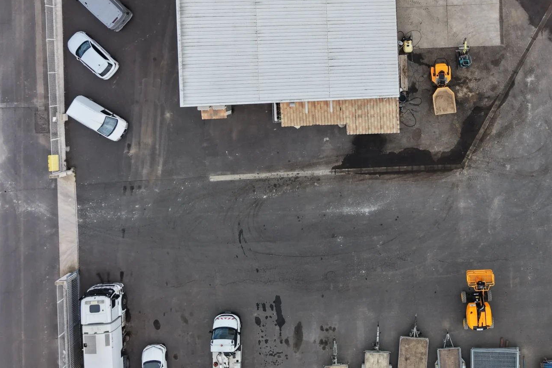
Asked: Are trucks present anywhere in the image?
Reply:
Yes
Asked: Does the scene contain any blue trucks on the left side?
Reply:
No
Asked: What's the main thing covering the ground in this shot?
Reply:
paved ground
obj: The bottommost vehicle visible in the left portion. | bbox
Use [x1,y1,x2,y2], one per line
[141,342,166,368]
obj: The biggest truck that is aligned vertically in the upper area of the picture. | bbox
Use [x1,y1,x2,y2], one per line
[428,61,457,116]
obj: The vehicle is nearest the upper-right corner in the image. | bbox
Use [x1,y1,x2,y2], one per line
[456,38,471,69]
